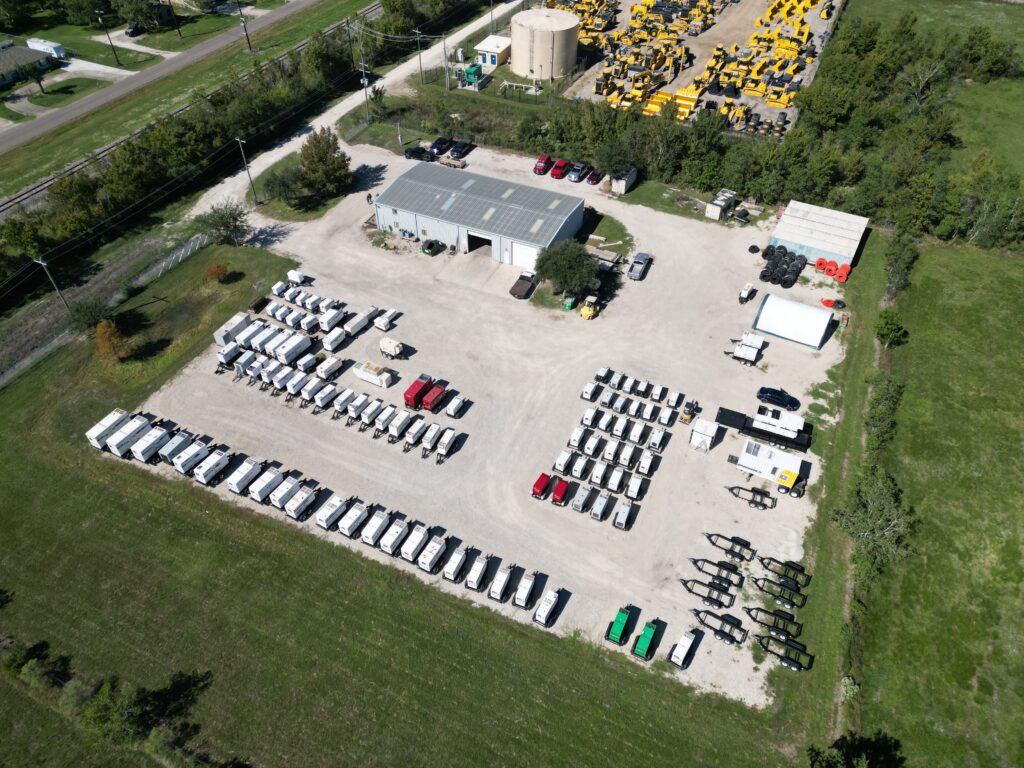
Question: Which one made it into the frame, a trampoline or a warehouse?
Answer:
warehouse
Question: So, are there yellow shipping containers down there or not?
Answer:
No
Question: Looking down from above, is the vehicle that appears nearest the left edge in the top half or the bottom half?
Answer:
top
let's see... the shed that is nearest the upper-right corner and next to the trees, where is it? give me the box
[770,199,869,264]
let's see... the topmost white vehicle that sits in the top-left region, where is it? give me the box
[28,38,70,60]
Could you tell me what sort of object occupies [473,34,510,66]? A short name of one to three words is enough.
building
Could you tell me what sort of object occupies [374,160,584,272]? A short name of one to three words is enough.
warehouse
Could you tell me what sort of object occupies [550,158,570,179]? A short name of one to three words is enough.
vehicle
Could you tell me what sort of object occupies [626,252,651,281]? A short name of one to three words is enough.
truck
